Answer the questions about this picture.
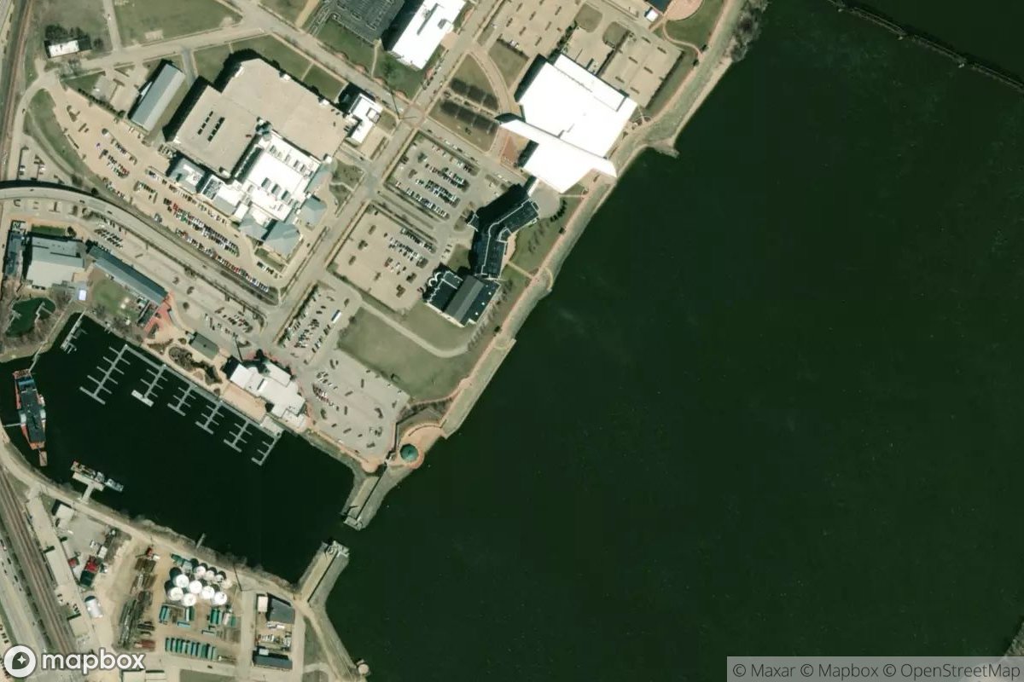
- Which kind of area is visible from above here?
port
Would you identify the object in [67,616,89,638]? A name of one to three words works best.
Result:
building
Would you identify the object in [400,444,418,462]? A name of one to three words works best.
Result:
gazebo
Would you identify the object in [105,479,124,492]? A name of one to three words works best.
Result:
boat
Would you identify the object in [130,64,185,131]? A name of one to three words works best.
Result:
building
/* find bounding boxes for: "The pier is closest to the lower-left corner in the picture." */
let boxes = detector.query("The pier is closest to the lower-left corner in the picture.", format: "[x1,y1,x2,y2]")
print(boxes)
[72,472,104,505]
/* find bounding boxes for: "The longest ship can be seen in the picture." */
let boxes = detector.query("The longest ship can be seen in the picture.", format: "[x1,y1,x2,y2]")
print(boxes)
[3,356,47,450]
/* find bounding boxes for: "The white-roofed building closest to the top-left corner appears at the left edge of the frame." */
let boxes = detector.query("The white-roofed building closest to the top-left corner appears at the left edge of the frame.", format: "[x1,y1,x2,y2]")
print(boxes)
[47,40,80,57]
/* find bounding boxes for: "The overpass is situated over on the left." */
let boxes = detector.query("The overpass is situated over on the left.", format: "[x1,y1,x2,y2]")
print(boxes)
[0,187,271,319]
